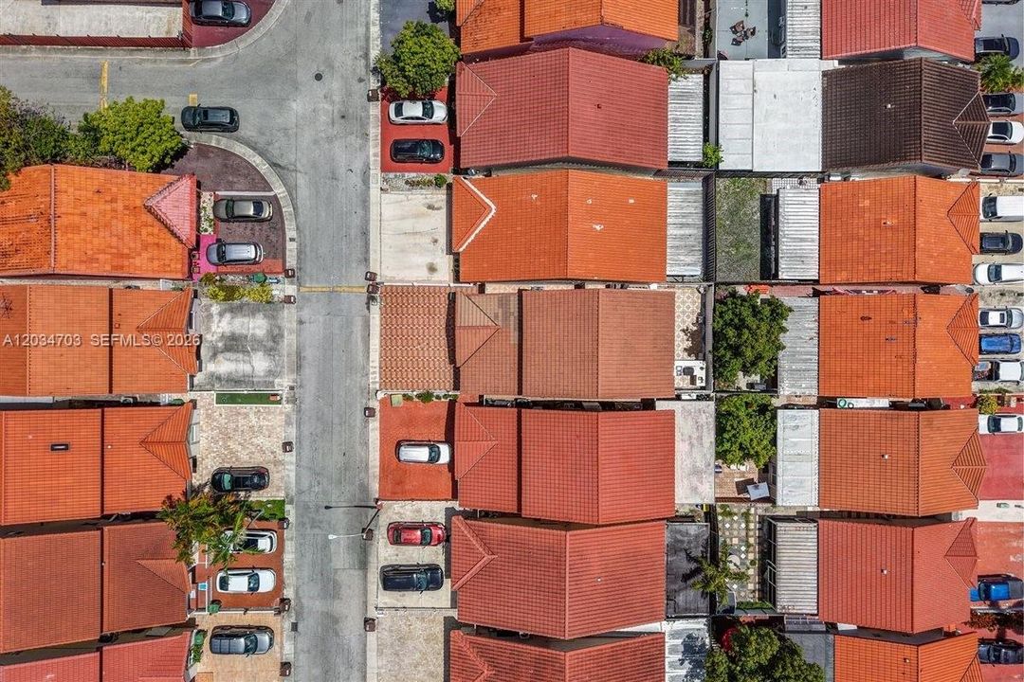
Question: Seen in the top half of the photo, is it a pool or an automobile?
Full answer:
The one visible in the top half of the photo is an automobile.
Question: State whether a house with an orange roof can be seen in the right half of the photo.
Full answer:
Yes, you'll find a house with an orange roof in the right half of the photo.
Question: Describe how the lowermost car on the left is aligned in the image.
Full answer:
In this picture, the lowermost car on the left is oriented horizontally.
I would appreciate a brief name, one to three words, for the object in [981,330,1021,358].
car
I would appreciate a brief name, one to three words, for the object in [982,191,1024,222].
van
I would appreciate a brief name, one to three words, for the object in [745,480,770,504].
umbrella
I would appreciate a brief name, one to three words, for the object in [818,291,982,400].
house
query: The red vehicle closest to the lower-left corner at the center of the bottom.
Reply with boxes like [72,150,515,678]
[386,520,446,548]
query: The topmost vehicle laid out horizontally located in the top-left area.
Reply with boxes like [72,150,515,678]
[190,0,252,28]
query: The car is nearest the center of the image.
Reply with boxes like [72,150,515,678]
[395,438,451,467]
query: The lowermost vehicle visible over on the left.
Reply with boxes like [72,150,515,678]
[209,626,273,658]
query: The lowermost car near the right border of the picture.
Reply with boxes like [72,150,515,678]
[978,639,1024,670]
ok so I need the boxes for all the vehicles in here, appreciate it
[970,259,1024,287]
[973,356,1024,385]
[970,573,1024,606]
[982,191,1024,222]
[389,97,448,126]
[215,195,273,222]
[983,89,1024,119]
[190,0,252,28]
[974,228,1022,256]
[212,466,271,494]
[209,626,273,658]
[182,103,242,134]
[978,639,1024,670]
[216,566,277,596]
[395,438,451,467]
[222,527,279,558]
[390,137,445,165]
[981,305,1020,331]
[968,148,1024,176]
[379,563,443,594]
[207,238,265,266]
[981,330,1021,358]
[988,116,1024,145]
[386,520,446,548]
[978,411,1024,437]
[974,29,1019,61]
